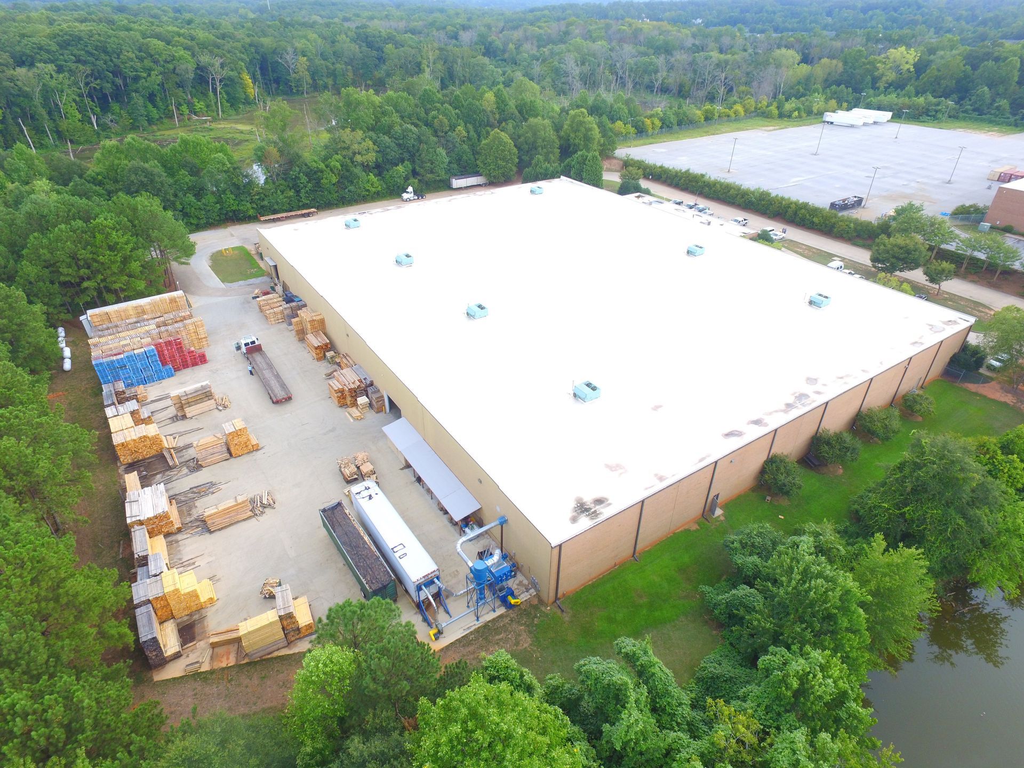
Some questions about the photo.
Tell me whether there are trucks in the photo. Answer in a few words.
Yes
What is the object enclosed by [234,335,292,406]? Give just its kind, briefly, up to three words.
truck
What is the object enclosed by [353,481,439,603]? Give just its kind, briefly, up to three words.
trailer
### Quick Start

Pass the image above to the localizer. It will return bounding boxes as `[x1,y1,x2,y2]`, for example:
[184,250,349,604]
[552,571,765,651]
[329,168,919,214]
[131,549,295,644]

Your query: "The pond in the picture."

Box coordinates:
[882,499,1024,768]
